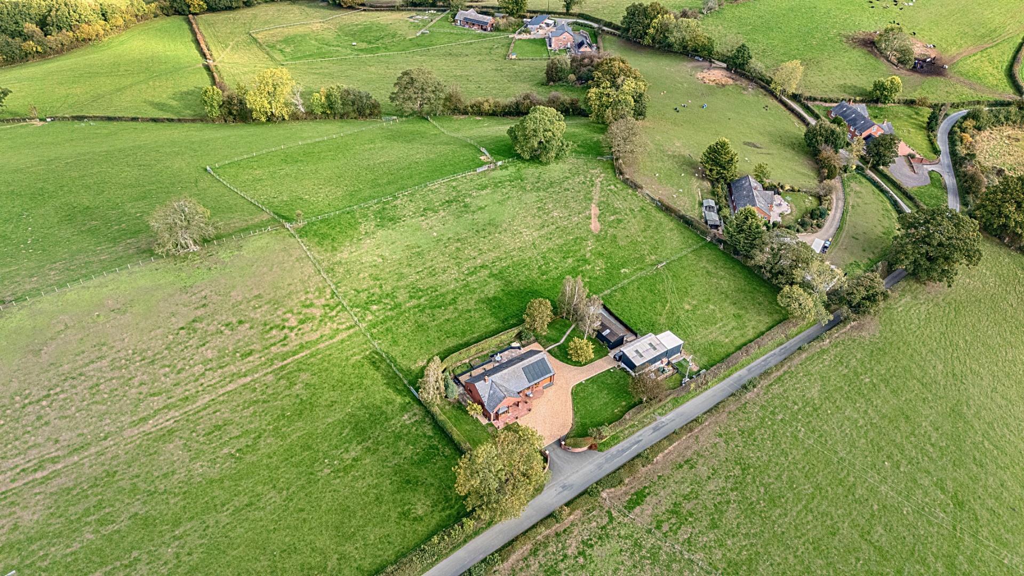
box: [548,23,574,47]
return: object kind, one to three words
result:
house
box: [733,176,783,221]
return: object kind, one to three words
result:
house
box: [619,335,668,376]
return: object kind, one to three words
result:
shed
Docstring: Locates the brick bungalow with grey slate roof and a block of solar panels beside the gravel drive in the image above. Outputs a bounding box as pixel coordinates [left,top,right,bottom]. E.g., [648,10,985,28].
[464,351,556,419]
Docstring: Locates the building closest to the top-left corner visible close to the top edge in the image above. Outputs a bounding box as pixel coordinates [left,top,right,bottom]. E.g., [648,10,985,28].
[455,12,494,31]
